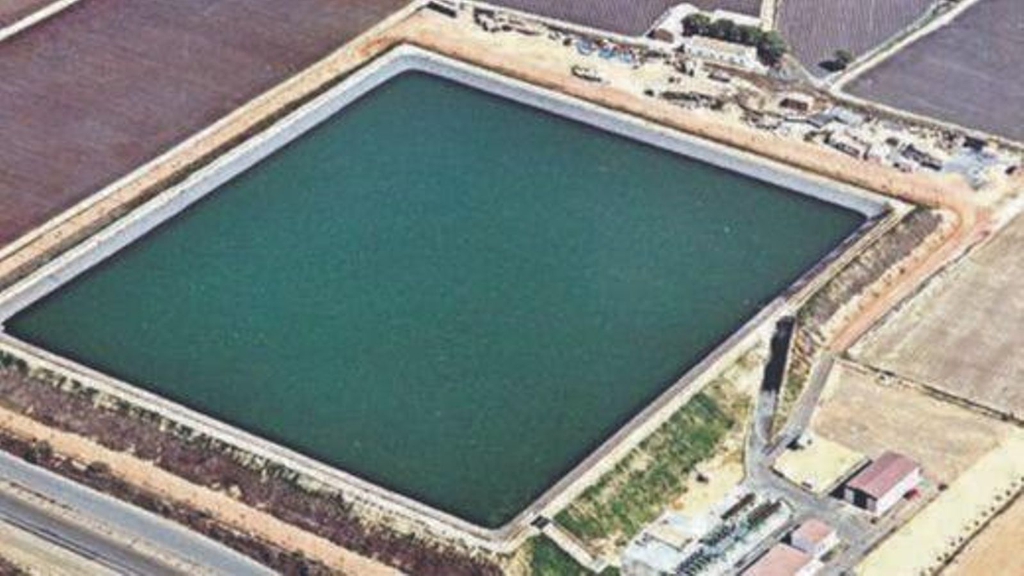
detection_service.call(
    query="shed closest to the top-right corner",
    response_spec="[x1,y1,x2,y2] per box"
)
[967,133,994,153]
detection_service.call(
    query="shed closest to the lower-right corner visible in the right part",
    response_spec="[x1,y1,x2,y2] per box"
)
[841,450,925,517]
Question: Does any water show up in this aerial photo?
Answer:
Yes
